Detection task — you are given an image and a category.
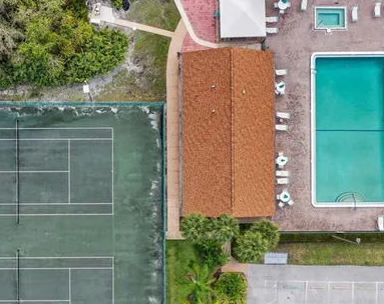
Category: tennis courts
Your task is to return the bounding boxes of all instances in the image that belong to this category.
[0,236,164,304]
[0,108,164,236]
